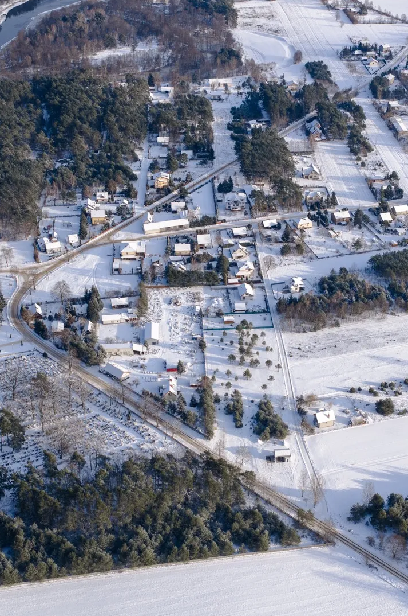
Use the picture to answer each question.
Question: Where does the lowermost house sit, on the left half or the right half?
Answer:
right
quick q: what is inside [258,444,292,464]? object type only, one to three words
house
